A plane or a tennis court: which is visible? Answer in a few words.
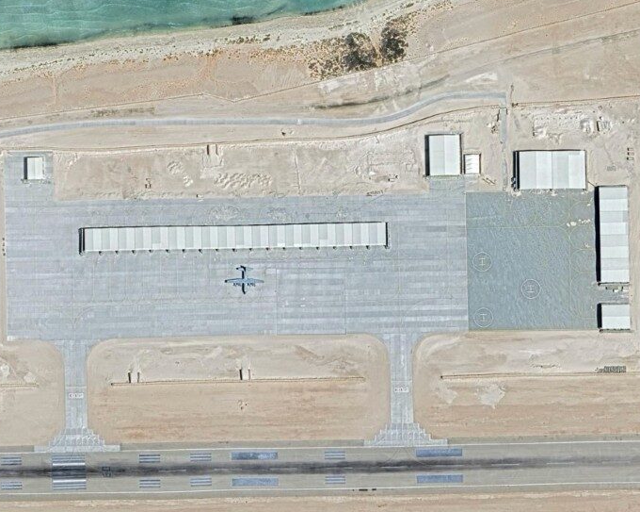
plane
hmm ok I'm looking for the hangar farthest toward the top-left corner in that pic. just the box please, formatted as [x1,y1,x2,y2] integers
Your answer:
[27,157,44,180]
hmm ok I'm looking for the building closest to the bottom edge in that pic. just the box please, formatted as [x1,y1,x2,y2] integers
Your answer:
[602,305,632,332]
